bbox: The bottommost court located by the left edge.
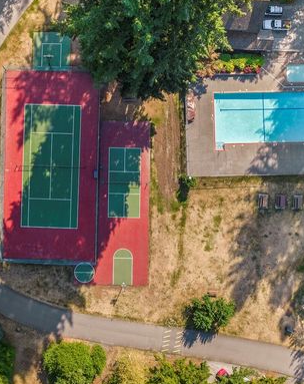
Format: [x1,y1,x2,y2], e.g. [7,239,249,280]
[0,71,99,262]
